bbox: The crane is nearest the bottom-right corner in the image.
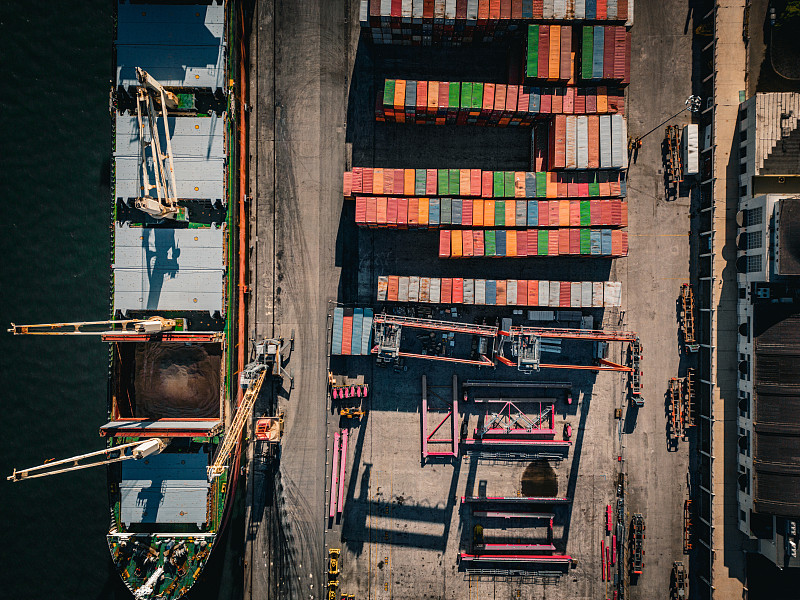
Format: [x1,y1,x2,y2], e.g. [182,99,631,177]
[493,319,637,377]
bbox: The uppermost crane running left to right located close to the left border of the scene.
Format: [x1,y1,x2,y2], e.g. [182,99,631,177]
[6,314,198,338]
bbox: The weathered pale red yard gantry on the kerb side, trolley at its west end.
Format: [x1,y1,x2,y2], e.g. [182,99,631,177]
[370,309,501,367]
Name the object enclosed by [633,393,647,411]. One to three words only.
vehicle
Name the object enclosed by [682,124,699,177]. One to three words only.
trailer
